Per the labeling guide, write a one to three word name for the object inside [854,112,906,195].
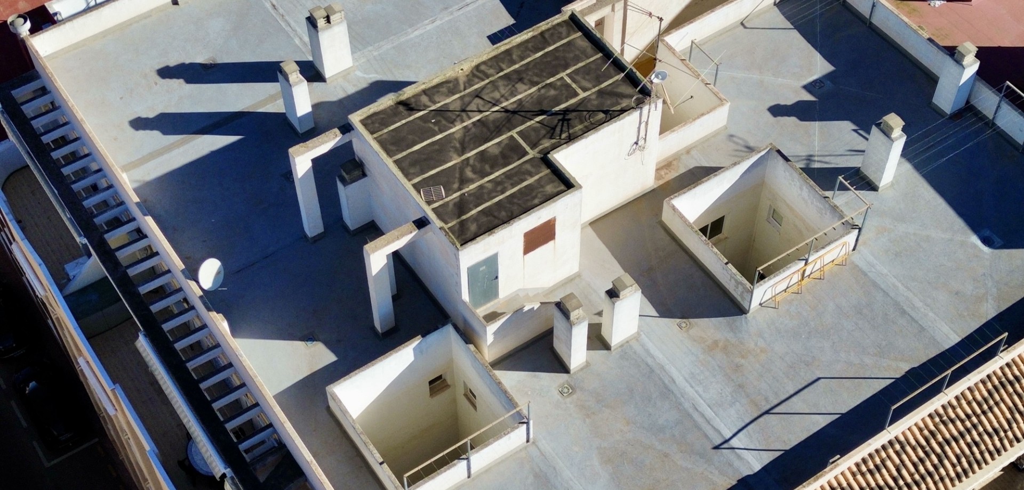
chimney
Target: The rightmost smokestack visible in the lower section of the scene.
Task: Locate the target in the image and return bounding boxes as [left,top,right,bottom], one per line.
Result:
[595,272,643,355]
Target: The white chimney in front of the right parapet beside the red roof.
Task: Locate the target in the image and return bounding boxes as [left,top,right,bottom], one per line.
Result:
[926,41,979,122]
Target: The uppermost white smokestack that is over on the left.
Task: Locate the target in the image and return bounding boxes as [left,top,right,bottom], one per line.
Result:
[306,0,358,86]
